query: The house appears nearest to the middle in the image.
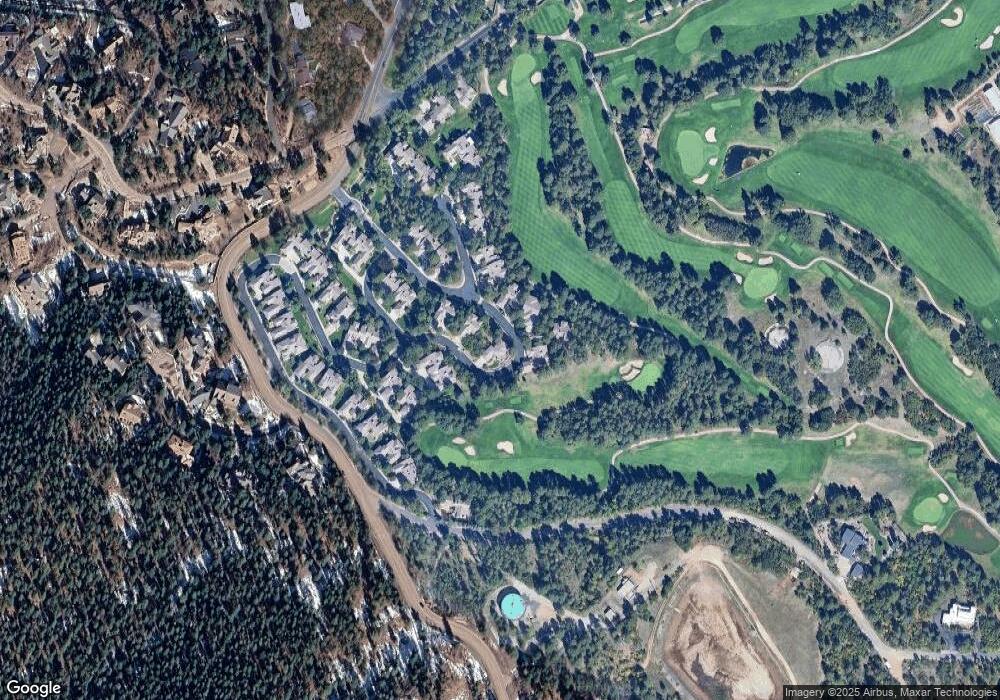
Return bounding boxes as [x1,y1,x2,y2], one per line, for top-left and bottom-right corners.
[479,336,513,371]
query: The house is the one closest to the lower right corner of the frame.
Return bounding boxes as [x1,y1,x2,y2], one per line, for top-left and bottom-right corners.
[944,601,977,624]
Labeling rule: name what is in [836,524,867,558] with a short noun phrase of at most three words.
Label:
house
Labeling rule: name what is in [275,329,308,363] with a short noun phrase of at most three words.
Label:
house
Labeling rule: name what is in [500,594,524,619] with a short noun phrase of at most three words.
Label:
water tank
